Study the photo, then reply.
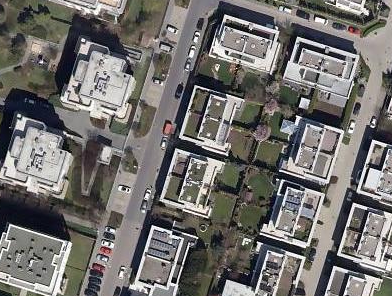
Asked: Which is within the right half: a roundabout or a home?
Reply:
home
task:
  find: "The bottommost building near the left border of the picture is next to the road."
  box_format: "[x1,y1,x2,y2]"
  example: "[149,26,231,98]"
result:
[0,224,74,296]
